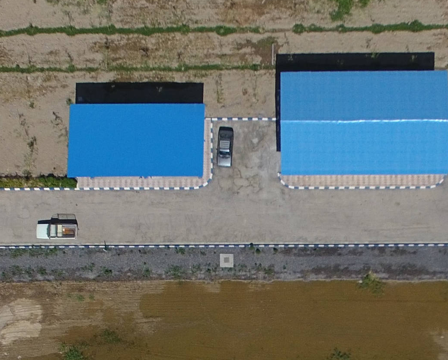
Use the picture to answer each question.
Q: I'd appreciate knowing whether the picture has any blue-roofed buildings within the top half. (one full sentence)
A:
Yes, looking within the top half, one can make out a blue-roofed building.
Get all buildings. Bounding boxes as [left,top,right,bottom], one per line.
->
[281,70,448,176]
[67,104,207,179]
